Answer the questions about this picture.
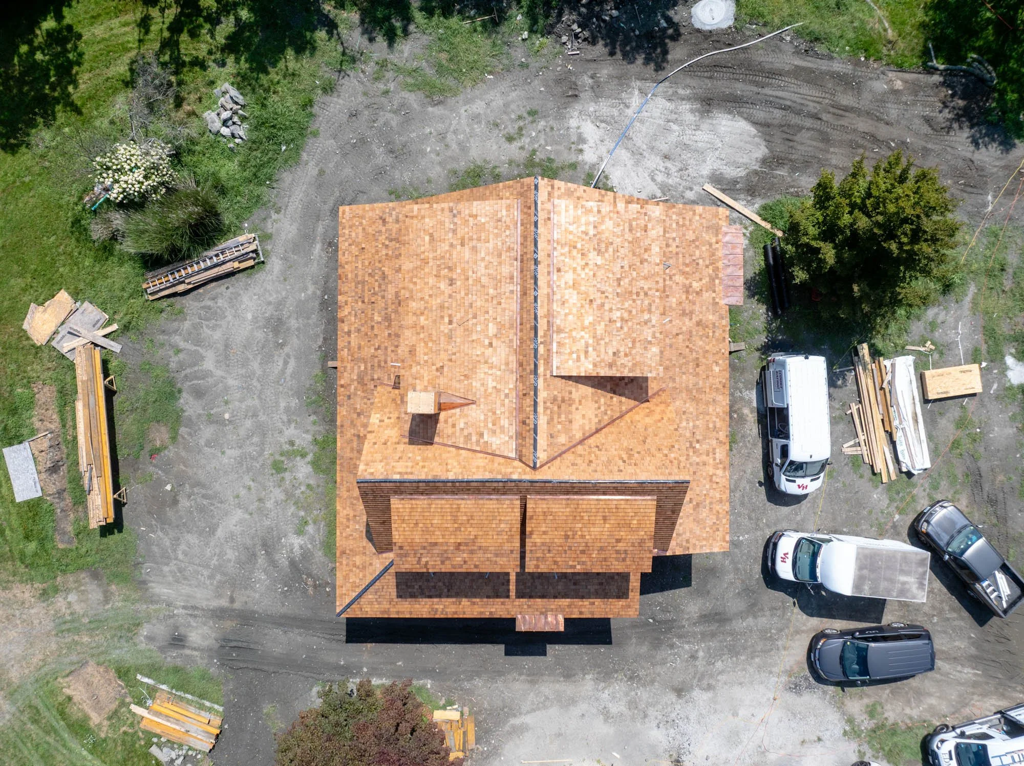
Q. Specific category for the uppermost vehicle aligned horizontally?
truck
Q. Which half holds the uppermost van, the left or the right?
right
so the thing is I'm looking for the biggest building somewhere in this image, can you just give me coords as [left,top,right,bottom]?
[328,176,745,632]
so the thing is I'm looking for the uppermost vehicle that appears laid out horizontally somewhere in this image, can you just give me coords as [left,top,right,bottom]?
[764,530,932,604]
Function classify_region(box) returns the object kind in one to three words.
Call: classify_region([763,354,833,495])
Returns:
van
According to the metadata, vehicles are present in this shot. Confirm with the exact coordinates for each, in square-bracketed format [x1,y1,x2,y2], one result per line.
[764,530,932,604]
[916,499,1024,621]
[926,698,1024,766]
[763,354,833,495]
[809,621,941,686]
